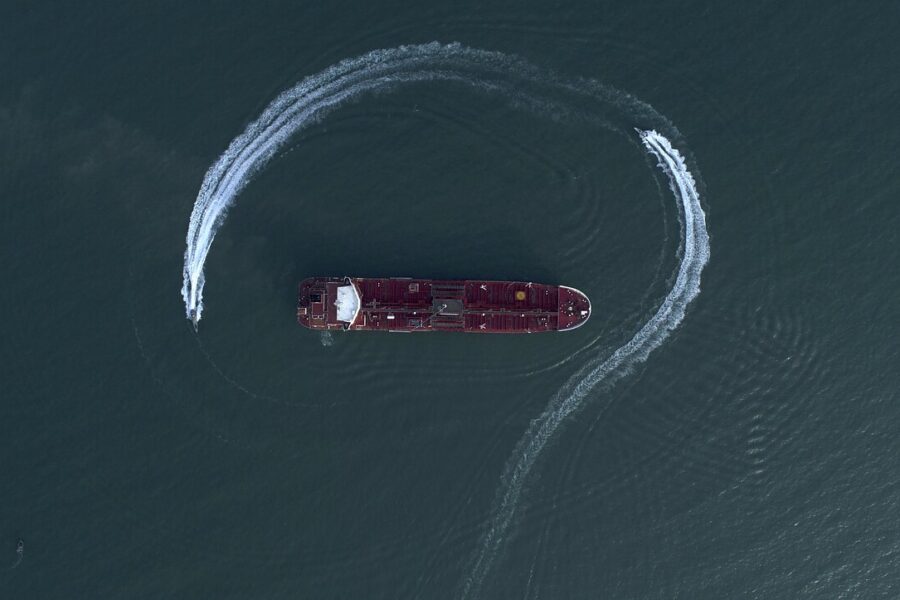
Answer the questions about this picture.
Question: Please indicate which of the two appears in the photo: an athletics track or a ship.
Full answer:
This aerial view contains a ship.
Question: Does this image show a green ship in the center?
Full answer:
No, looking in the center, there is no green ship.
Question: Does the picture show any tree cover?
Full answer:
No, the picture contains no tree cover.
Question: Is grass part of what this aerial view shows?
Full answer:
No, grass can't be seen anywhere here.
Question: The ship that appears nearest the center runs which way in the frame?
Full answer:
In this picture, the ship that appears nearest the center lies horizontally.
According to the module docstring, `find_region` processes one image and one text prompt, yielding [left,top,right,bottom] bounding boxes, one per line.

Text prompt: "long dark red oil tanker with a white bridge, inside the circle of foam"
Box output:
[298,277,592,334]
